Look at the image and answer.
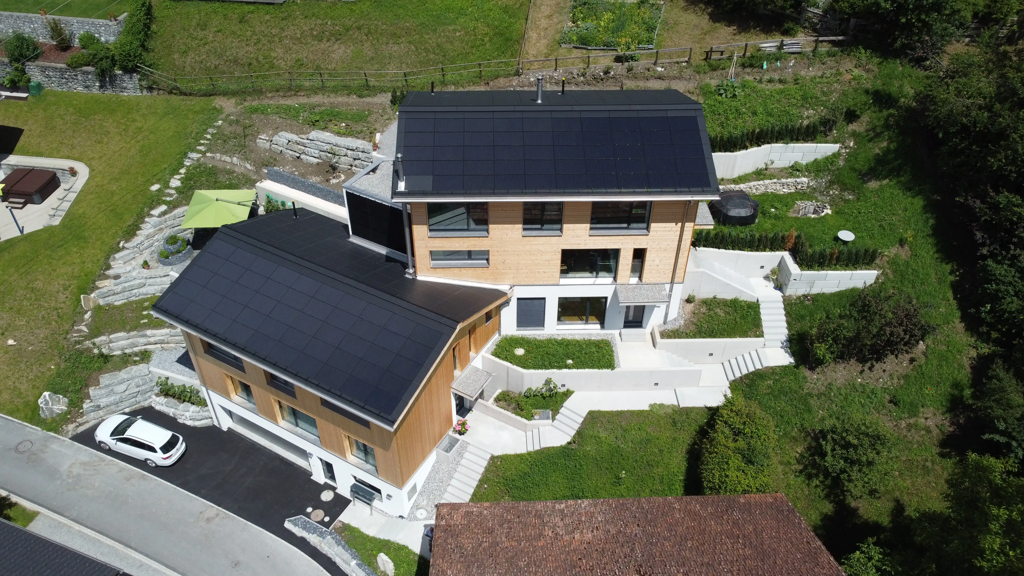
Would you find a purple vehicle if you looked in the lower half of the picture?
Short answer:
No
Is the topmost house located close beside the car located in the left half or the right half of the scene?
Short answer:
left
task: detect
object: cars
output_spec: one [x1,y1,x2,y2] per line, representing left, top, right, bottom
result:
[89,409,188,470]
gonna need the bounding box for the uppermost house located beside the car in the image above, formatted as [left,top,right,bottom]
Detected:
[148,201,511,520]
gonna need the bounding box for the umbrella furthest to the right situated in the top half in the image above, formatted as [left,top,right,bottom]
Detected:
[181,162,261,228]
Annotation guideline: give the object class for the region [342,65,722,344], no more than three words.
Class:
house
